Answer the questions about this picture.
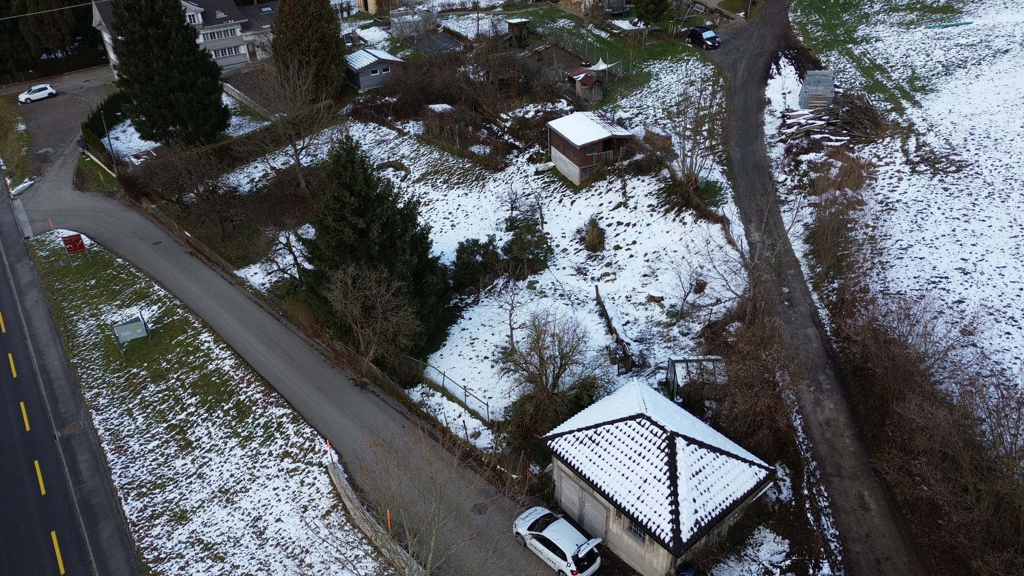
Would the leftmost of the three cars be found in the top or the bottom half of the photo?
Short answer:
top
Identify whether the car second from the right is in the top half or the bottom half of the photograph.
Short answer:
bottom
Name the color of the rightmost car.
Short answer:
black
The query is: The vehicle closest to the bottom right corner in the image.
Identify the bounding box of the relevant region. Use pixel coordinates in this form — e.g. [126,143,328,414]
[513,506,609,576]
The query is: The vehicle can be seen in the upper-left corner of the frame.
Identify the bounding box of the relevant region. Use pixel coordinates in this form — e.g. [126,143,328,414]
[15,80,58,103]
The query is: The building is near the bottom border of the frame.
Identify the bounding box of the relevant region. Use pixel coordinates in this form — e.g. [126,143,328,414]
[537,382,779,576]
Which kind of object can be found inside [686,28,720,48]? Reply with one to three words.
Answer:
car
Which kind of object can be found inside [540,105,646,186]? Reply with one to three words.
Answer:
shed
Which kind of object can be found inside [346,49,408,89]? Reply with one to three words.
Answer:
shed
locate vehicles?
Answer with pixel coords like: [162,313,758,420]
[513,506,609,576]
[15,80,58,103]
[686,28,720,48]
